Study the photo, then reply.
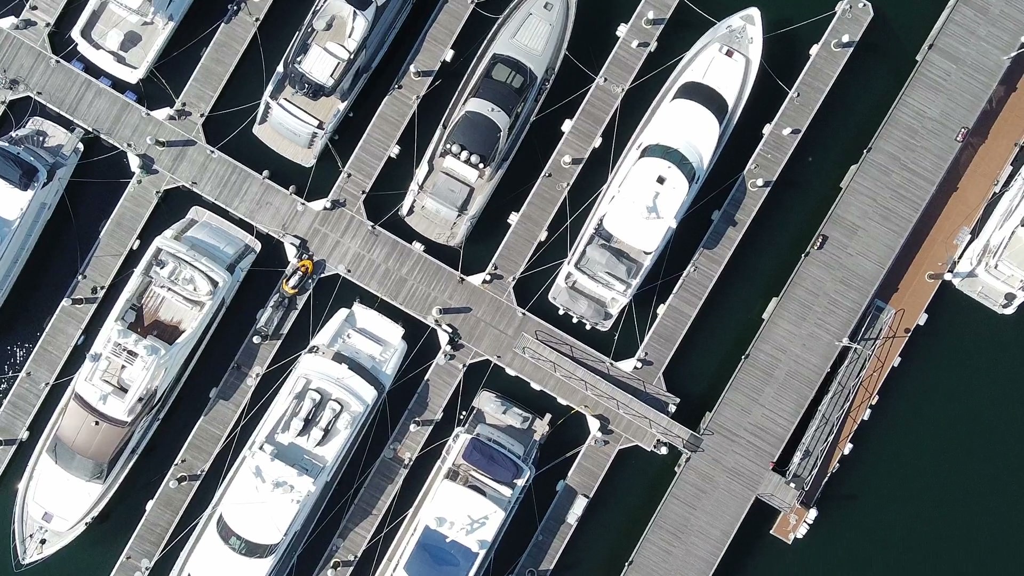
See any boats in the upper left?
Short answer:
Yes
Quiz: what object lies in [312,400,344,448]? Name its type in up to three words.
boat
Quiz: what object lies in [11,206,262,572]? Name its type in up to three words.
boat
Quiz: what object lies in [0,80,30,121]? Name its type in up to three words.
pier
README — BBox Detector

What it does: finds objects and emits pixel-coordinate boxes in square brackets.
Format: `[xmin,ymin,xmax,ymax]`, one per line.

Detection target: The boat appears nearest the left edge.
[0,117,85,306]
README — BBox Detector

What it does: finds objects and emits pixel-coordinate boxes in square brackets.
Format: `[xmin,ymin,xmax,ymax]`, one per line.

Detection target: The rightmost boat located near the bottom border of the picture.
[378,387,551,576]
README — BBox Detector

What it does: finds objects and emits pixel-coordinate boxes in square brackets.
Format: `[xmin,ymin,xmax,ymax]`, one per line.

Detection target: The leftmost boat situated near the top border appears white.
[71,0,202,89]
